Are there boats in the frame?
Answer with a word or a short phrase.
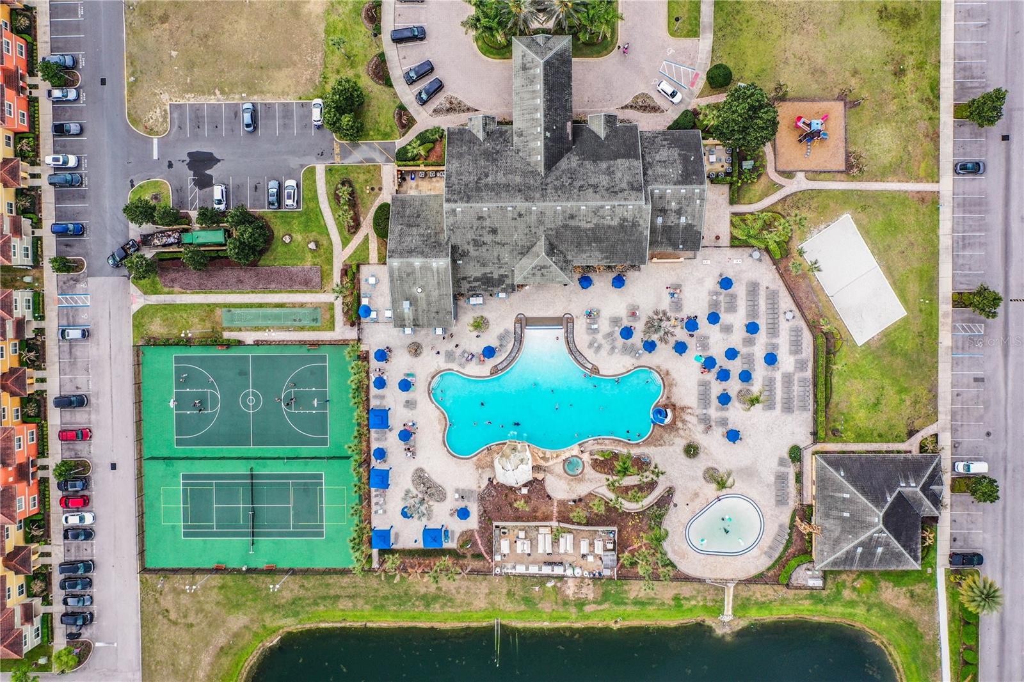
No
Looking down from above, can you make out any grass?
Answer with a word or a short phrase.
Yes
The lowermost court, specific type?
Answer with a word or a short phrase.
tennis court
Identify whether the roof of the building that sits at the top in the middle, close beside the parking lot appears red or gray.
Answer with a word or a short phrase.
gray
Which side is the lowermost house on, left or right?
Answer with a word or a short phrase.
left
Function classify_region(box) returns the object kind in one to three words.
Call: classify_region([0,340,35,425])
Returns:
house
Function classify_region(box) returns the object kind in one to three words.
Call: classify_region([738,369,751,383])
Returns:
umbrella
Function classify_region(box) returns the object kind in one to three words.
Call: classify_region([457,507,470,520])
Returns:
umbrella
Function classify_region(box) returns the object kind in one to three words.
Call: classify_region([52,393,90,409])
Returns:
car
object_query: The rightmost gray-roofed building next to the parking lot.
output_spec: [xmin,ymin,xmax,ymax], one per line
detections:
[387,30,707,327]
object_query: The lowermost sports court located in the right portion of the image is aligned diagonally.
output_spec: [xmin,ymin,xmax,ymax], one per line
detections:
[799,213,907,346]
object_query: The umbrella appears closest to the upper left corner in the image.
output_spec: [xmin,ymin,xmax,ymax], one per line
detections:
[359,305,371,318]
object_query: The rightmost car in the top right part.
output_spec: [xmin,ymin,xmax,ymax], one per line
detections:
[953,160,983,175]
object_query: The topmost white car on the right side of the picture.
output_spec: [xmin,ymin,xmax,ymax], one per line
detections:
[655,79,682,105]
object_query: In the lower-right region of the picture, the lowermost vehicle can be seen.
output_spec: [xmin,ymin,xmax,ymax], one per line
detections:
[947,552,983,569]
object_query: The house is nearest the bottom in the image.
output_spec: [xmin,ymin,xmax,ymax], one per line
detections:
[0,600,42,665]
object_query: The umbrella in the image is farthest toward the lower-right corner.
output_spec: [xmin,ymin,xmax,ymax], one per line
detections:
[726,429,739,442]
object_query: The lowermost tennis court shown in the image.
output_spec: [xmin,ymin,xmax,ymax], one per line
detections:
[144,457,355,568]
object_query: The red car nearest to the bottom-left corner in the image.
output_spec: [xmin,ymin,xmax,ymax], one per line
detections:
[61,495,92,510]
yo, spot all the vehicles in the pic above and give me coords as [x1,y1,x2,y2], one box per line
[62,592,95,608]
[106,238,144,268]
[65,634,80,640]
[266,180,282,210]
[60,610,96,627]
[64,526,97,542]
[59,575,95,592]
[415,78,445,104]
[47,87,81,103]
[655,79,682,105]
[59,326,91,342]
[241,103,257,133]
[51,221,87,236]
[212,183,229,212]
[284,179,299,210]
[390,25,426,44]
[48,172,84,188]
[63,511,97,526]
[45,153,81,169]
[53,121,85,137]
[57,477,90,493]
[52,393,90,409]
[61,495,92,510]
[953,160,983,175]
[58,559,97,576]
[947,552,983,569]
[404,60,436,84]
[952,460,991,476]
[310,99,325,127]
